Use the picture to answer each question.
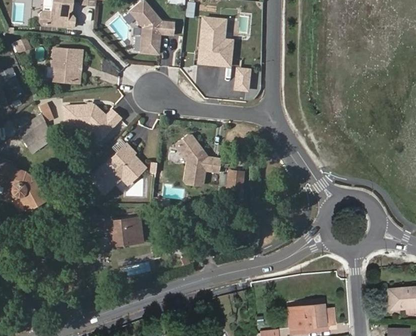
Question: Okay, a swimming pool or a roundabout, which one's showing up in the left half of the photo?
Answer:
swimming pool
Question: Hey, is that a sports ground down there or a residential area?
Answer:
residential area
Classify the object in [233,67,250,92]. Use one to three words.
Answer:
building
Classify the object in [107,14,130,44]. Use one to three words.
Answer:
swimming pool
